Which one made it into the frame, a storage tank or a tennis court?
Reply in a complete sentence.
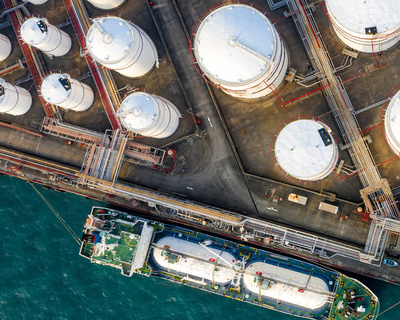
Of the two, only a storage tank appears.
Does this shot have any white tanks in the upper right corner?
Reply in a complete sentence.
Yes, you'll find a white tank in the upper right corner.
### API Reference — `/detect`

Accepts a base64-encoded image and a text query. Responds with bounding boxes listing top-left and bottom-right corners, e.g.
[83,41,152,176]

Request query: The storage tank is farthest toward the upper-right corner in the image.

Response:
[321,0,400,58]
